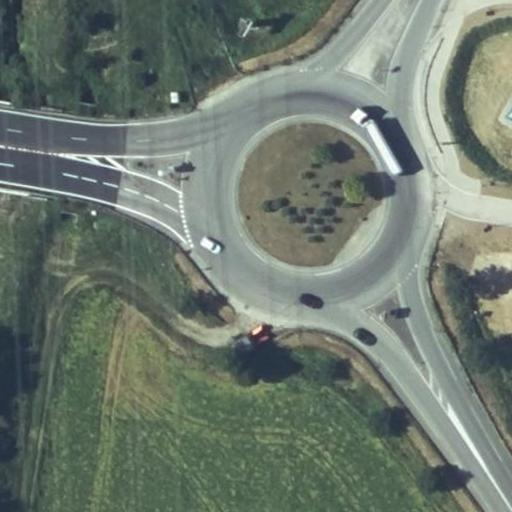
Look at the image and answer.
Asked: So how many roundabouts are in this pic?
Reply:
one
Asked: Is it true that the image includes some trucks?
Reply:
Yes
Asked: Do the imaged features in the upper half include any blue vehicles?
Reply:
No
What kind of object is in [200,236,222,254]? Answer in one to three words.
car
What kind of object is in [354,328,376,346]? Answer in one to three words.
car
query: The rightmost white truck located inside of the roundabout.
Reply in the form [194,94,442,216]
[351,108,404,174]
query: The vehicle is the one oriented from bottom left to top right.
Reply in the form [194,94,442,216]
[240,322,270,348]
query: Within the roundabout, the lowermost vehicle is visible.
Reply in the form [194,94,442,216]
[300,294,324,308]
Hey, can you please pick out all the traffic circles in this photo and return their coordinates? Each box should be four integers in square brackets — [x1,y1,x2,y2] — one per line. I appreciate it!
[190,72,434,318]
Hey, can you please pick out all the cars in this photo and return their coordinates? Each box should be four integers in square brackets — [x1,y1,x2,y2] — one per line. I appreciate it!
[200,236,222,254]
[300,294,324,308]
[354,328,376,346]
